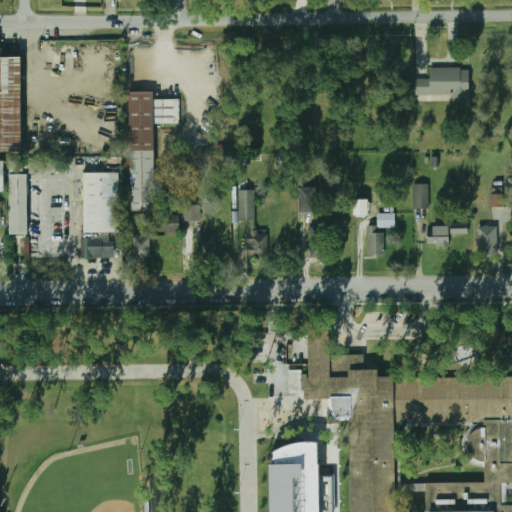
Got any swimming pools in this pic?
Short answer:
No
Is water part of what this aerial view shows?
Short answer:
No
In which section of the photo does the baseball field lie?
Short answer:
bottom left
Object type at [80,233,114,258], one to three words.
building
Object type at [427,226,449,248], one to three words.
house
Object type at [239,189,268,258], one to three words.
house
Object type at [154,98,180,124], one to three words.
building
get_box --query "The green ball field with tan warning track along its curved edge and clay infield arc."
[16,436,140,512]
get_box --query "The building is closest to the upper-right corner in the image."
[417,66,470,101]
